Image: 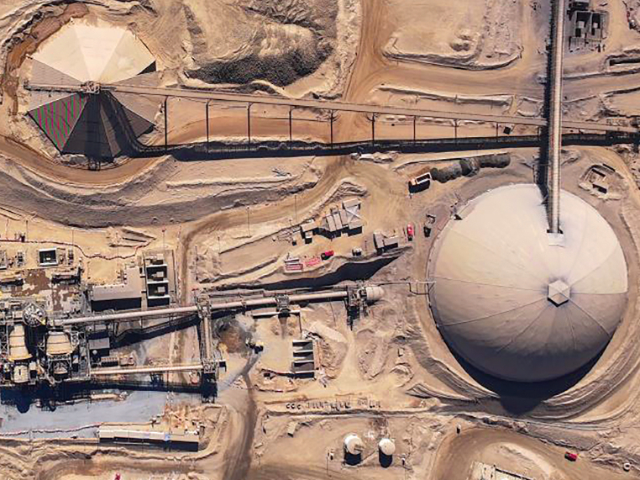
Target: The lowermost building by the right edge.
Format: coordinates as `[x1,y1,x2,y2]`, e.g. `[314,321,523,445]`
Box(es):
[431,186,629,381]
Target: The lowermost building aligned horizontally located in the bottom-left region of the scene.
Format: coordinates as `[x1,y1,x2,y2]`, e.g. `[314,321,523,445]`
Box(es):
[97,425,198,440]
